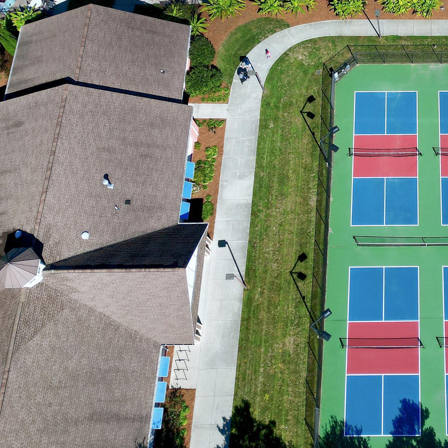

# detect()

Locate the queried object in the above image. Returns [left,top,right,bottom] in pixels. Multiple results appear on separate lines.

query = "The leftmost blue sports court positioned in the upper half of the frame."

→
[351,91,418,226]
